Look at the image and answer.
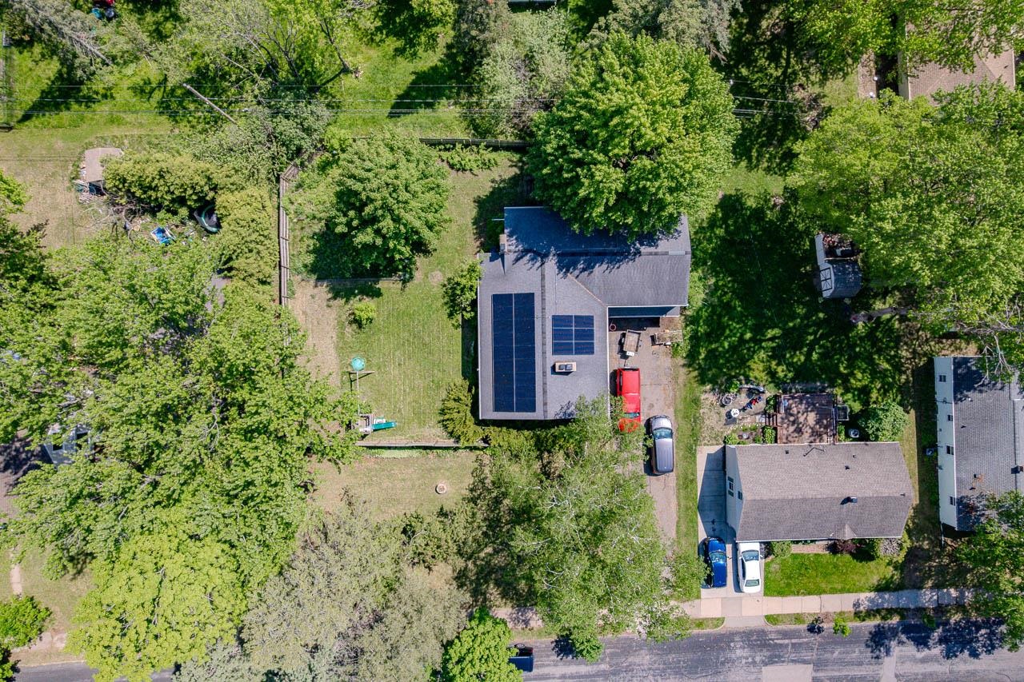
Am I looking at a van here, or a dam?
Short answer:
van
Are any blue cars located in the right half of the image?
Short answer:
Yes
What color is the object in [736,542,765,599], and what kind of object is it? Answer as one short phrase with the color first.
white car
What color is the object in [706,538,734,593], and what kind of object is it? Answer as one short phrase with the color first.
blue car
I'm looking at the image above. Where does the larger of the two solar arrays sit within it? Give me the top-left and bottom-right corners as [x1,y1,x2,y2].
[492,293,535,412]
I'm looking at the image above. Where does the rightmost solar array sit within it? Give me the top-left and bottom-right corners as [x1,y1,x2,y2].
[553,315,594,355]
